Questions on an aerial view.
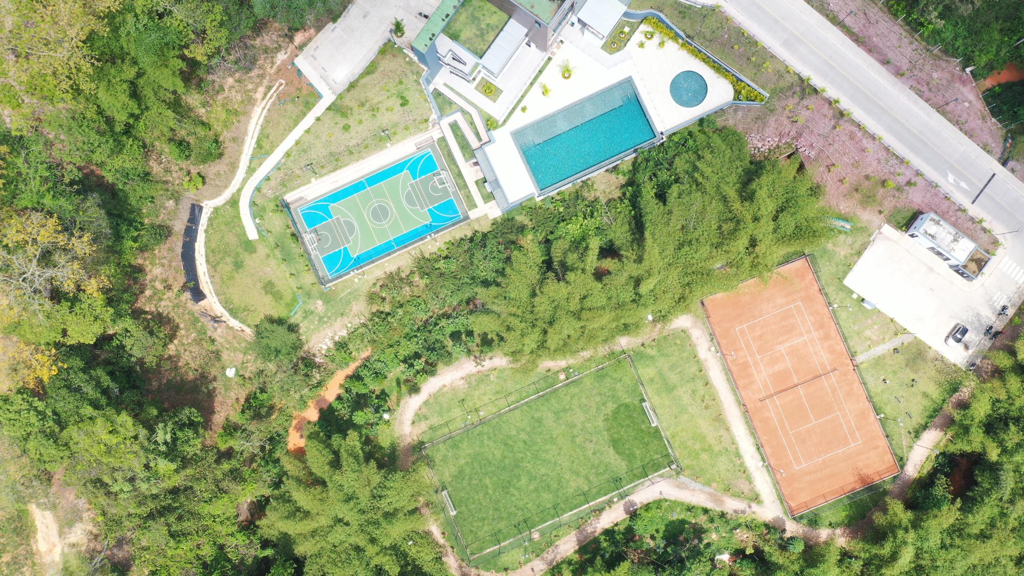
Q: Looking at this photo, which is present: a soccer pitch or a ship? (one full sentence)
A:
Visible in the photo is a soccer pitch.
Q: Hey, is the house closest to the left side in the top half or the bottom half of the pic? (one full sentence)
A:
The house closest to the left side sits in the top half of the picture.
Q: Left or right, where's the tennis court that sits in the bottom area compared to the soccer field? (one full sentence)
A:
Relative to the soccer field, the tennis court that sits in the bottom area is on the right.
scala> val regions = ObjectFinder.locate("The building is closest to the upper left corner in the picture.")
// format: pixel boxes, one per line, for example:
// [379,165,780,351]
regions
[412,0,575,89]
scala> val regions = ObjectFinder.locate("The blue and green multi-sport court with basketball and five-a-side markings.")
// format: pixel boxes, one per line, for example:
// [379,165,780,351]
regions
[291,142,469,285]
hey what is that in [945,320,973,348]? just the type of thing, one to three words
car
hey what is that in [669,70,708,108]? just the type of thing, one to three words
swimming pool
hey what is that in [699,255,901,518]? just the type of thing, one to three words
tennis court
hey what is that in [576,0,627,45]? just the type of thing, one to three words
building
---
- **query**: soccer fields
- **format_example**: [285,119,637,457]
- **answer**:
[421,353,678,561]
